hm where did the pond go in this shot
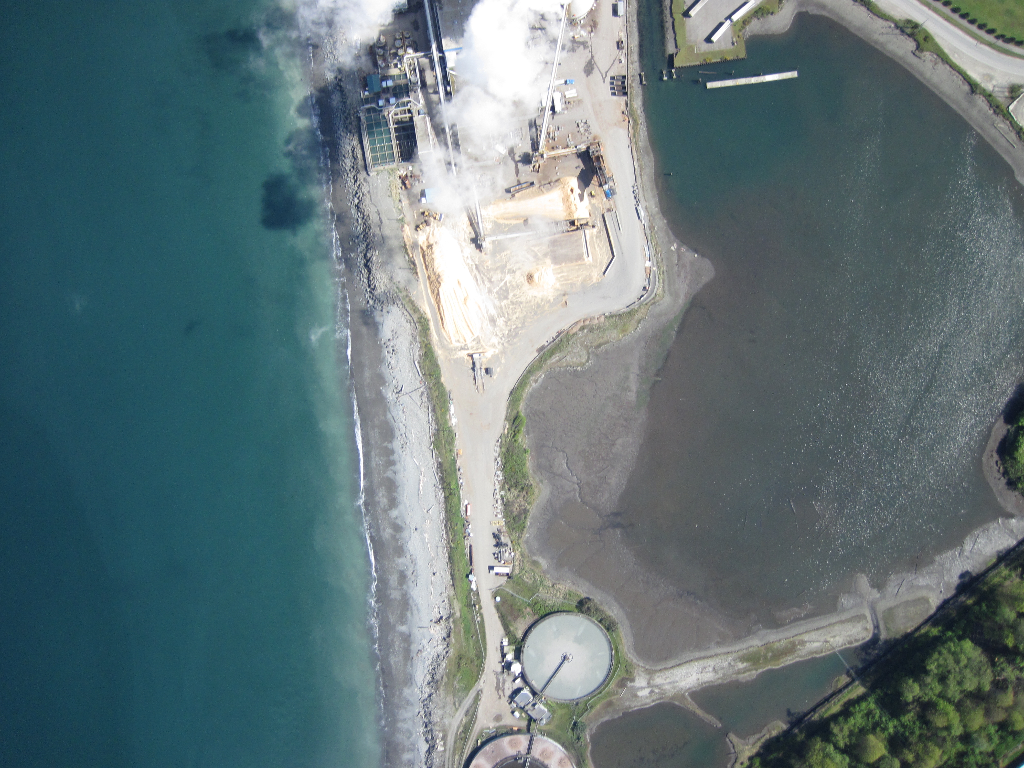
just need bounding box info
[590,646,855,768]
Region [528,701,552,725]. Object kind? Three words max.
building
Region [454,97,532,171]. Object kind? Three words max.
building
